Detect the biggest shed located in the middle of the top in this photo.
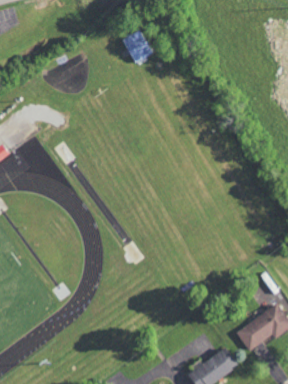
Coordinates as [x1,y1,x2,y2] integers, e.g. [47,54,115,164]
[124,30,156,64]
